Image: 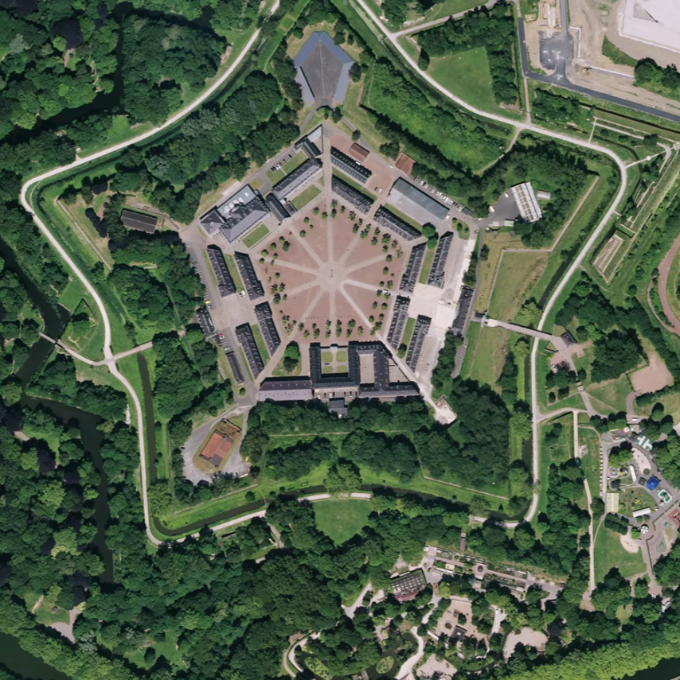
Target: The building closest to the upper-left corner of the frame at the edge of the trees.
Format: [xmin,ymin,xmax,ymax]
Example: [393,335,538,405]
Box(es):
[119,208,159,232]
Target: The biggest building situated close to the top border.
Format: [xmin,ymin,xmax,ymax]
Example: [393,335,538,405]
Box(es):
[294,30,354,106]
